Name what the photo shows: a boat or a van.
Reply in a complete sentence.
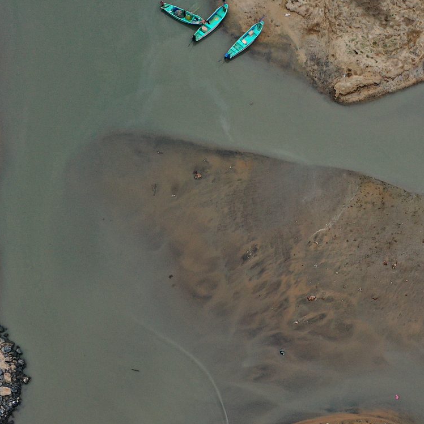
The one in the frame is a boat.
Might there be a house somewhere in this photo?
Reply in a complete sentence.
No, no house is visible in the view.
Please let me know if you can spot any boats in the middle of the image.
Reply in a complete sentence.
No, I see no boat in the middle of the image.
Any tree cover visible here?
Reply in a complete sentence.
No, tree cover can't be seen anywhere here.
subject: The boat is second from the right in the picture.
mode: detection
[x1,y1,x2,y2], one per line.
[190,1,227,45]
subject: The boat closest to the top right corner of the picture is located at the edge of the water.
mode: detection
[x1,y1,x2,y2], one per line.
[224,16,264,60]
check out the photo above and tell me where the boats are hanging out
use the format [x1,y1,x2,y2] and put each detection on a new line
[190,1,227,45]
[153,0,204,24]
[224,16,264,60]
